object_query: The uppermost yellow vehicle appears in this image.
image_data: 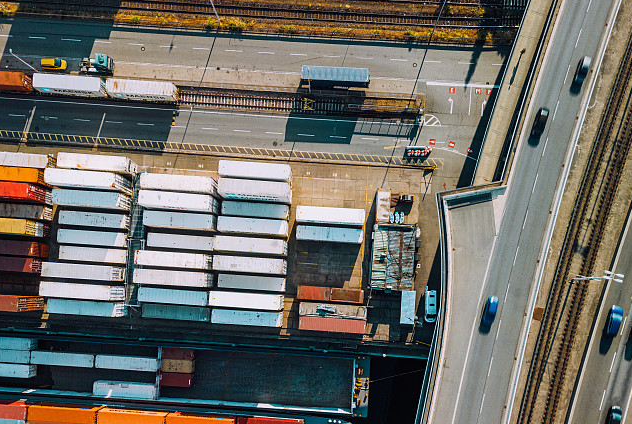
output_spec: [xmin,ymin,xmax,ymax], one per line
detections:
[40,57,67,70]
